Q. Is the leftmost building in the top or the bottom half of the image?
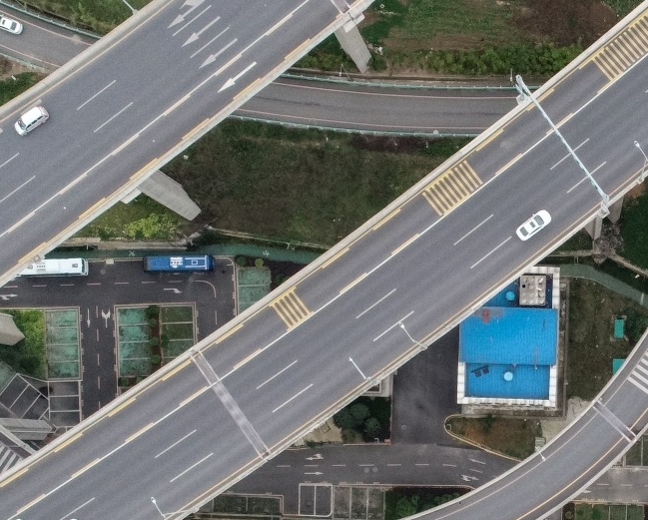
bottom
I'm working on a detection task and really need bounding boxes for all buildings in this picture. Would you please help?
[358,370,397,397]
[458,265,560,407]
